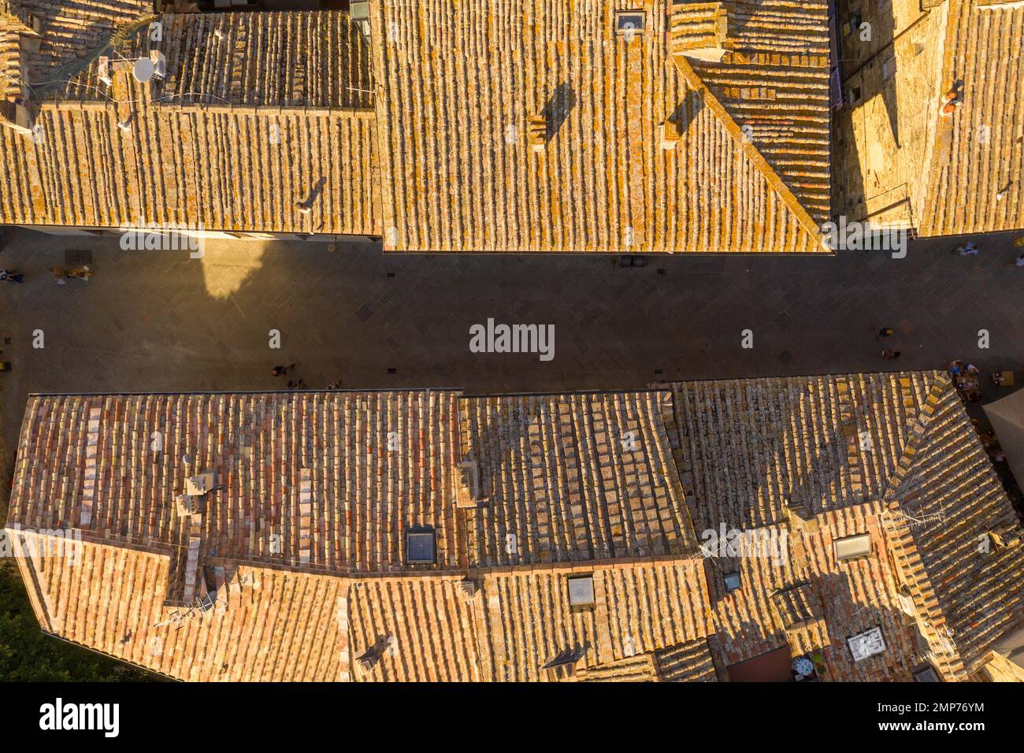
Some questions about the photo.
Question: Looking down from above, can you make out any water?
No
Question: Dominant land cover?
buildings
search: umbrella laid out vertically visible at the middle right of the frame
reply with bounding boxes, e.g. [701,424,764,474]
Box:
[981,385,1024,490]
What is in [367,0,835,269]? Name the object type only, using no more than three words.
house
